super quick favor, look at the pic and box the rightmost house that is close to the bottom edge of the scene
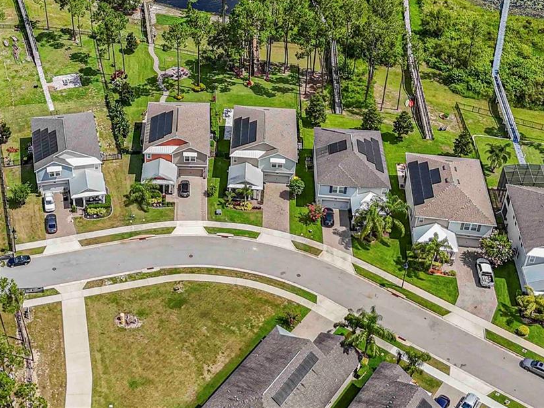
[347,366,432,408]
